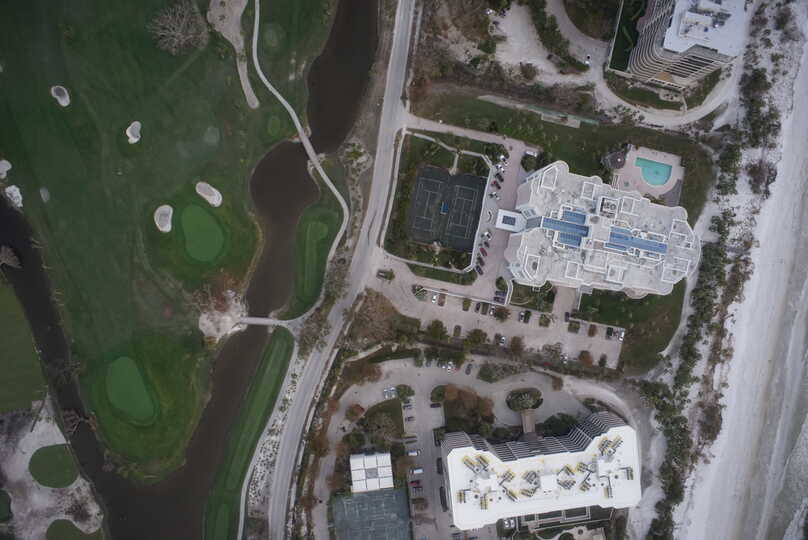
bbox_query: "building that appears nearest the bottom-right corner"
[443,411,642,531]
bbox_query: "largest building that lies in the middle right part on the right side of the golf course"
[499,160,701,299]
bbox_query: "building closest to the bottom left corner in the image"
[350,452,394,493]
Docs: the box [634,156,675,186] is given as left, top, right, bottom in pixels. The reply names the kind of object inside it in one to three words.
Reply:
swimming pool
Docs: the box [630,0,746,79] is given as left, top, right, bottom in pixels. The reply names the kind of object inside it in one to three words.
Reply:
building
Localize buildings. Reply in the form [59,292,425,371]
[499,160,701,299]
[443,411,642,531]
[350,452,394,493]
[630,0,746,79]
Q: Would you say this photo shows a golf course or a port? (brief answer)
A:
golf course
